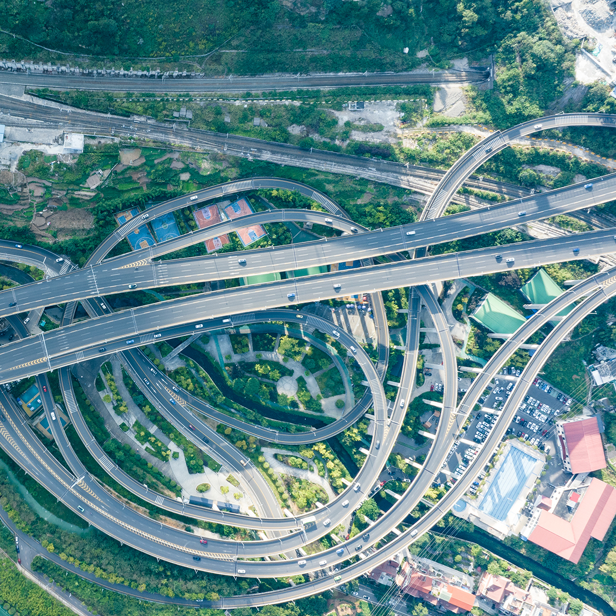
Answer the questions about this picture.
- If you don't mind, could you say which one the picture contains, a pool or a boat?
pool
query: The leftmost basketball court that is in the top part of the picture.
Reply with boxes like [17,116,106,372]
[114,206,156,249]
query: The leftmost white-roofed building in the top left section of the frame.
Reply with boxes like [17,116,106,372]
[65,132,84,154]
